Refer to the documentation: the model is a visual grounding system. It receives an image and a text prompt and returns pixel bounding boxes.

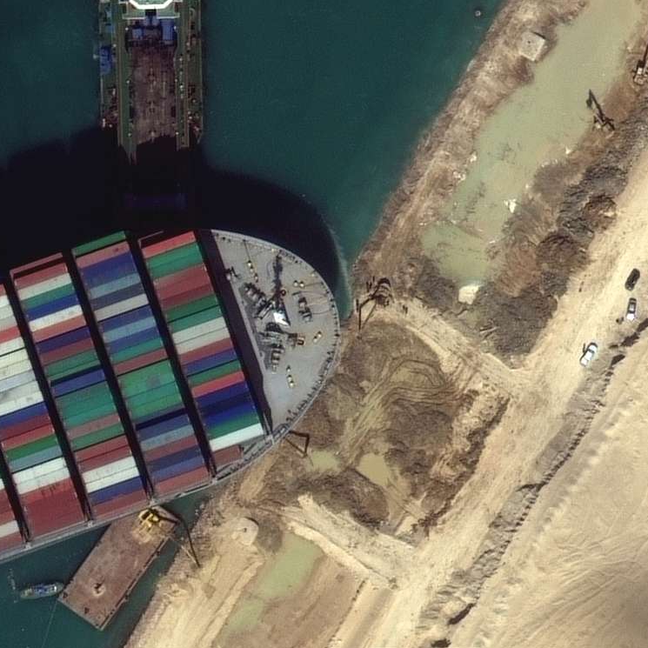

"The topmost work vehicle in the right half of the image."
[629,43,648,90]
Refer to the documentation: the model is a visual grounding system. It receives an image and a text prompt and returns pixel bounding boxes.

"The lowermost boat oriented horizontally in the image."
[18,582,64,599]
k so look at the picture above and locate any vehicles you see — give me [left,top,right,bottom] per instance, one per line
[629,43,648,90]
[581,342,597,365]
[278,431,310,459]
[625,268,640,290]
[591,90,615,138]
[357,273,398,332]
[140,505,202,571]
[626,297,637,320]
